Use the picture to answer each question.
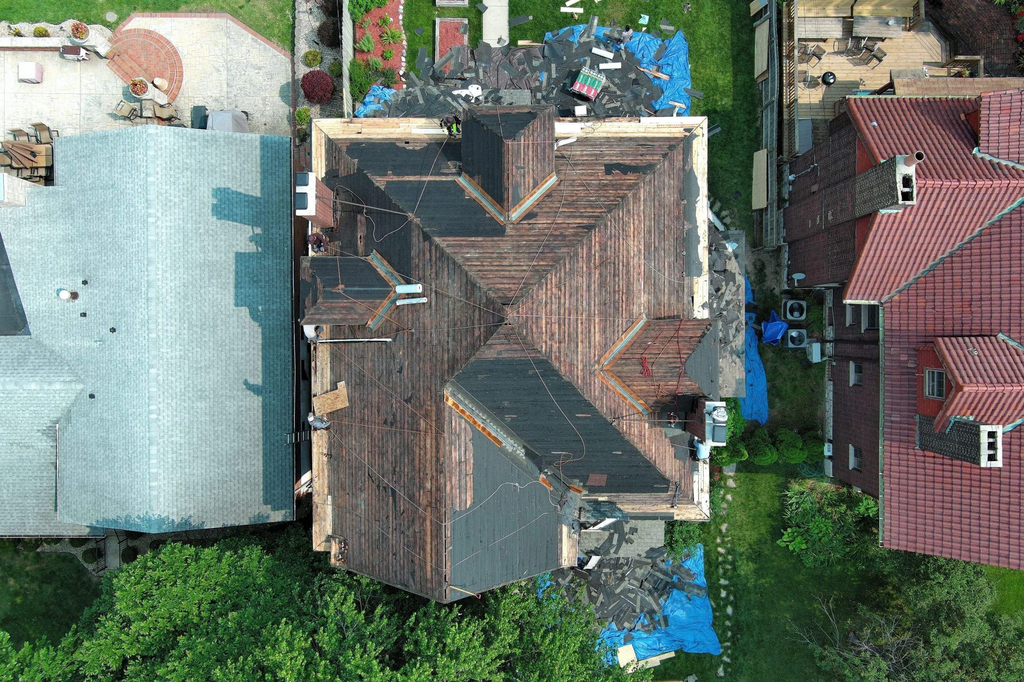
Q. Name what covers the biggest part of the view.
buildings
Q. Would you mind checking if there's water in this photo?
No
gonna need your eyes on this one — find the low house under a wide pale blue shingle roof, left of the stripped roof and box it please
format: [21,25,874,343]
[0,121,302,540]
